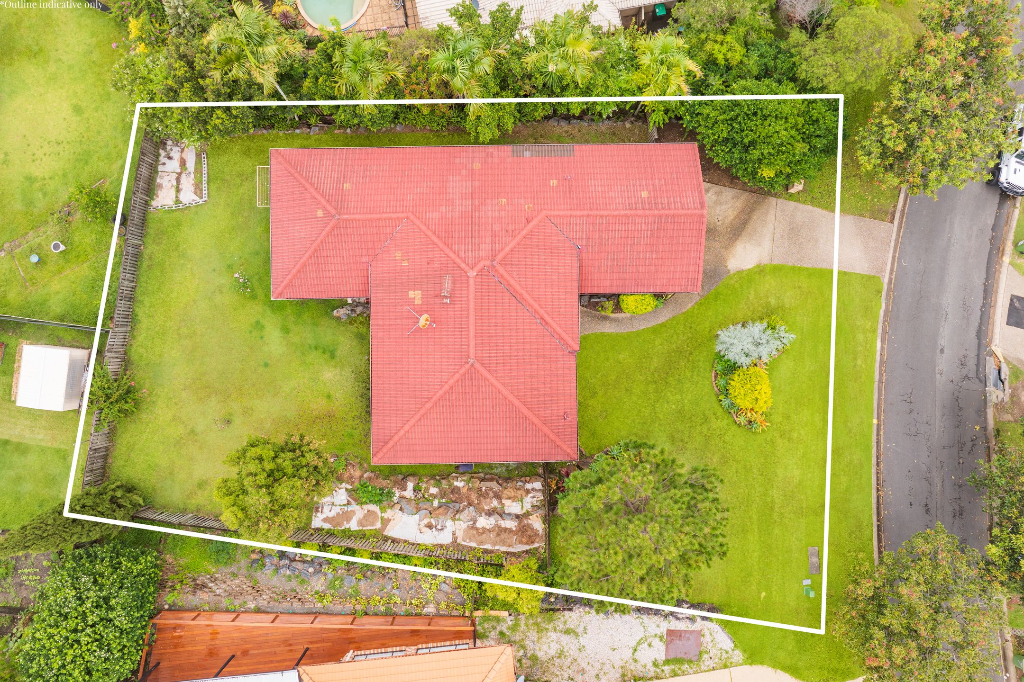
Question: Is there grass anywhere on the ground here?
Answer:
Yes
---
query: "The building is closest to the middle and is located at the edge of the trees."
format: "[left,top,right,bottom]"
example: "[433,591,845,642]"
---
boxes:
[267,140,710,466]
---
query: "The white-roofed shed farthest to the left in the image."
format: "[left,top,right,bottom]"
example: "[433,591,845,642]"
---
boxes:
[16,345,91,411]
